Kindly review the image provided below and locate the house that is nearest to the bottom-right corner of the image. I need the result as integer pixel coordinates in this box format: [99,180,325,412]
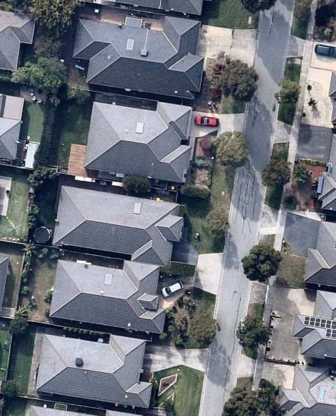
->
[277,364,336,416]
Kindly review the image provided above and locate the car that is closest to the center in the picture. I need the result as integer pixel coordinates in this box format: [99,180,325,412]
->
[161,281,183,297]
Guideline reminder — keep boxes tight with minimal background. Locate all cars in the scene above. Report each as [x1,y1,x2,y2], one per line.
[314,43,336,57]
[161,281,183,297]
[194,115,219,127]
